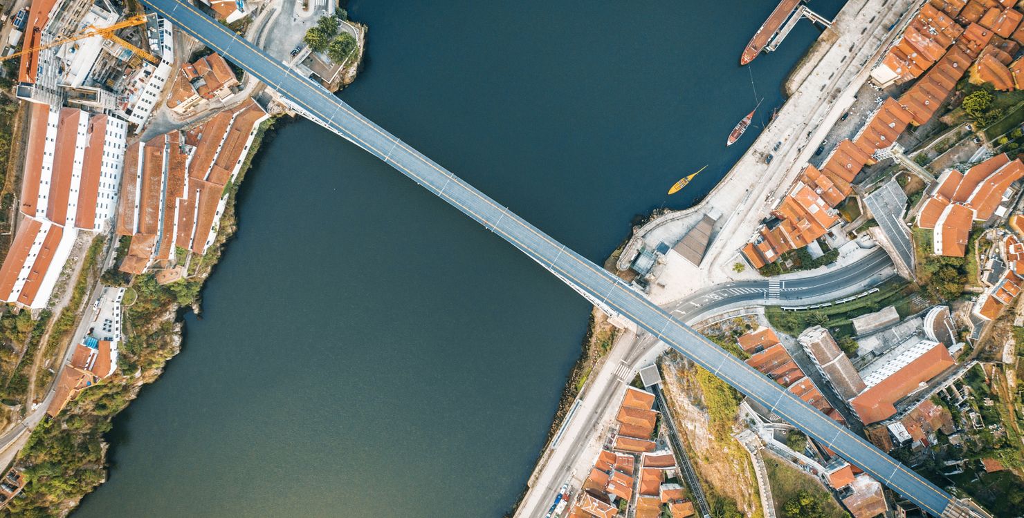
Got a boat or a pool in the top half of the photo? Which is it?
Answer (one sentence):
There is a boat in the top half of the photo.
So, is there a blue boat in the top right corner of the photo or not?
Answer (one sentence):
No, I can find no blue boat in the top right corner of the photo.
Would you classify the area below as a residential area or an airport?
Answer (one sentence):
This looks like a residential area.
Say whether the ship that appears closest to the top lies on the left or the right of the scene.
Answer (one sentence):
The ship that appears closest to the top sits on the right side.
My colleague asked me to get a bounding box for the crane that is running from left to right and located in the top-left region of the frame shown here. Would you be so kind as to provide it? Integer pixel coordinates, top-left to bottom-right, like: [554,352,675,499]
[0,16,167,67]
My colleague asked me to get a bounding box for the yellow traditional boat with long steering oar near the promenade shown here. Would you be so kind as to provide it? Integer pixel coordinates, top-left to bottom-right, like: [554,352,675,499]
[668,166,708,194]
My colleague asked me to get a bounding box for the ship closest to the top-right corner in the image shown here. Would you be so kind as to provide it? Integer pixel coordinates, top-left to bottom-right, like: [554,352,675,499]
[742,0,801,65]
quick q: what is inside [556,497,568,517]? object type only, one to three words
vehicle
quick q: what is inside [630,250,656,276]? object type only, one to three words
building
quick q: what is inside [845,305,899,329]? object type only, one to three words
barn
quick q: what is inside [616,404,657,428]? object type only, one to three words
house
